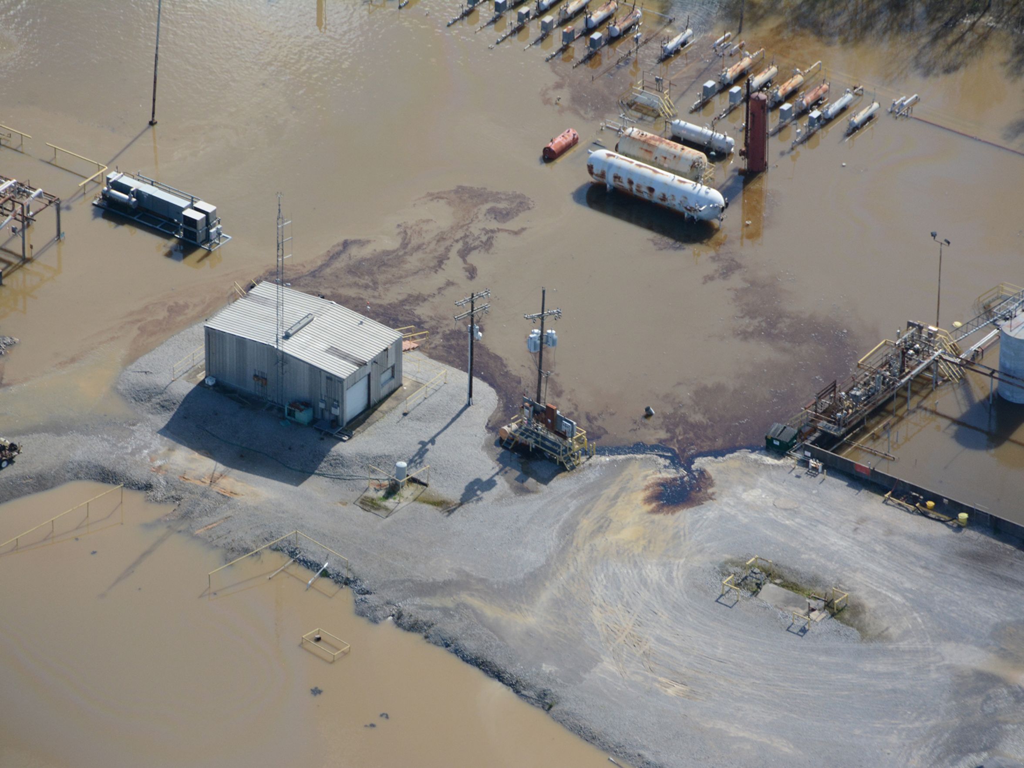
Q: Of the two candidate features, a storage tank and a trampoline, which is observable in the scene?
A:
storage tank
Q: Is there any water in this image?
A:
Yes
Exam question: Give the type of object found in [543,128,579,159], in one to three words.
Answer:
storage tank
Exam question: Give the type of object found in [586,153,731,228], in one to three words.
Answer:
storage tank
